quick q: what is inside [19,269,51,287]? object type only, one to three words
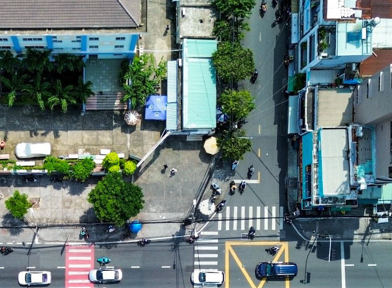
car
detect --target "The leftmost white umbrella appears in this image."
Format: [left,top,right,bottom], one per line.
[124,110,139,126]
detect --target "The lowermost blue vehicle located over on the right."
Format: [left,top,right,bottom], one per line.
[255,261,297,281]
